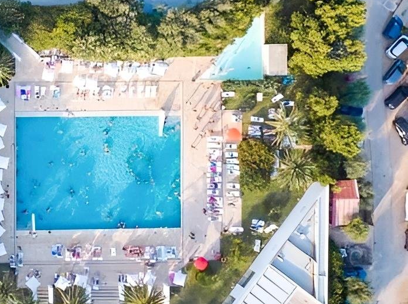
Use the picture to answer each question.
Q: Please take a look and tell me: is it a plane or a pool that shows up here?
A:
pool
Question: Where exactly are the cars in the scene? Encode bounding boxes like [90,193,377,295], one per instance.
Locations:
[339,104,368,118]
[387,34,408,58]
[394,116,408,144]
[384,15,406,41]
[387,85,408,109]
[384,58,408,85]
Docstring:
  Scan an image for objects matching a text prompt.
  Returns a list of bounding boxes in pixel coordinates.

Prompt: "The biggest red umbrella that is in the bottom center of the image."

[193,256,209,271]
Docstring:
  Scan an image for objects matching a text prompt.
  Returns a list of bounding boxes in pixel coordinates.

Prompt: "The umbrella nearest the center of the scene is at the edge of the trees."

[226,127,242,142]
